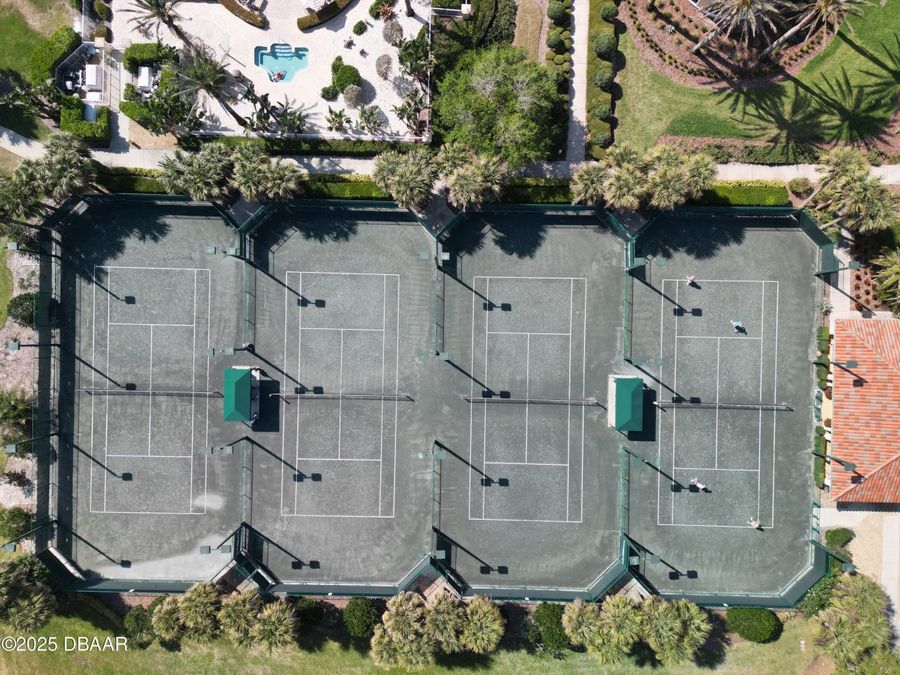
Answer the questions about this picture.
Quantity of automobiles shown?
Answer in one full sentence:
There are no automobiles in the image.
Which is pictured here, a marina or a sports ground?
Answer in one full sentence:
The picture captures a sports ground.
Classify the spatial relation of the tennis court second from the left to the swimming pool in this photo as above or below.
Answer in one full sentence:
From this view, the tennis court second from the left can be seen below the swimming pool.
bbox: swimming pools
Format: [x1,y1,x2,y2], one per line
[251,37,311,84]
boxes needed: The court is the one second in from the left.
[243,204,436,588]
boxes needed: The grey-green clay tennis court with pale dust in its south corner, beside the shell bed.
[48,200,246,584]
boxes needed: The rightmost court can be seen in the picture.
[621,212,824,599]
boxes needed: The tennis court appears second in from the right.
[433,208,627,592]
